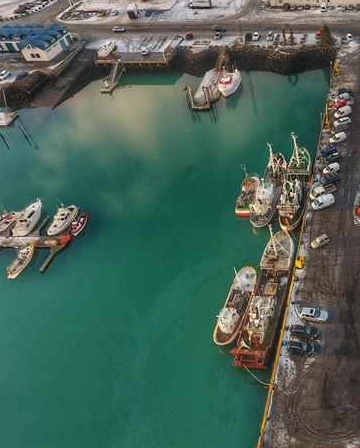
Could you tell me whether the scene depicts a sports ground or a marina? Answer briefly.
marina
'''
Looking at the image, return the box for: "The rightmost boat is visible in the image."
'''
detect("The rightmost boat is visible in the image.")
[276,116,310,236]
